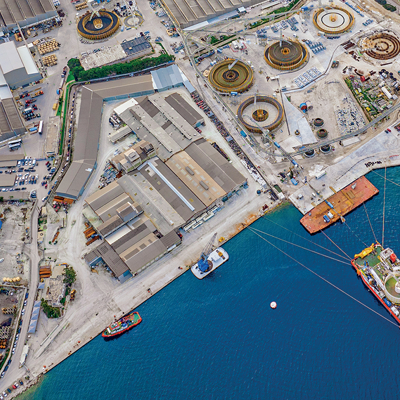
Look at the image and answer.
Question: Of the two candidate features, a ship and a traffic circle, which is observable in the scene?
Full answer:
Visible in the photo is a ship.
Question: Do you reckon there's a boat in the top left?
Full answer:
No, looking in the top left, there is no boat.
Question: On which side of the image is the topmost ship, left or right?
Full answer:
The topmost ship appears in the right half of the scene.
